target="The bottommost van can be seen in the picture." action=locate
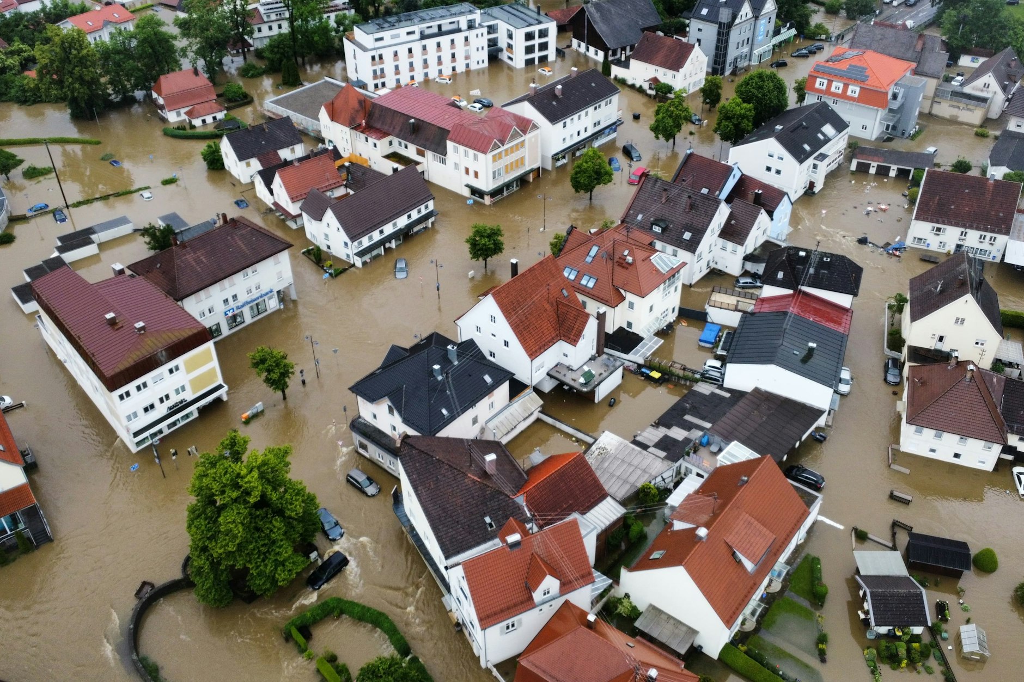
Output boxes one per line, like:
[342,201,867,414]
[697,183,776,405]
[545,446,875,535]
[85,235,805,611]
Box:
[306,547,350,593]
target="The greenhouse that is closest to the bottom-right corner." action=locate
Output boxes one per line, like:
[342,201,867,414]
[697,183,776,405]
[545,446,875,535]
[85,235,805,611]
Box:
[956,624,991,664]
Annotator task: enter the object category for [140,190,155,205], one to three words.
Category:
car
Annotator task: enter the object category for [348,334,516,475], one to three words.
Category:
house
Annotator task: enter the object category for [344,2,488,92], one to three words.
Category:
building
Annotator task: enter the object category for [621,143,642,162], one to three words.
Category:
vehicle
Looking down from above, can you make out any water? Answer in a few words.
Yes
